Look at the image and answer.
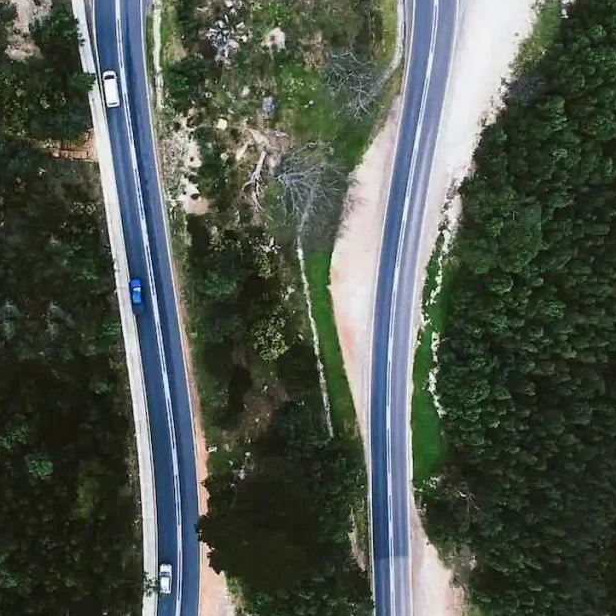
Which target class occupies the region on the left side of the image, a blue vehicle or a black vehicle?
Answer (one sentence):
What appears on the left side of the image is a blue vehicle.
